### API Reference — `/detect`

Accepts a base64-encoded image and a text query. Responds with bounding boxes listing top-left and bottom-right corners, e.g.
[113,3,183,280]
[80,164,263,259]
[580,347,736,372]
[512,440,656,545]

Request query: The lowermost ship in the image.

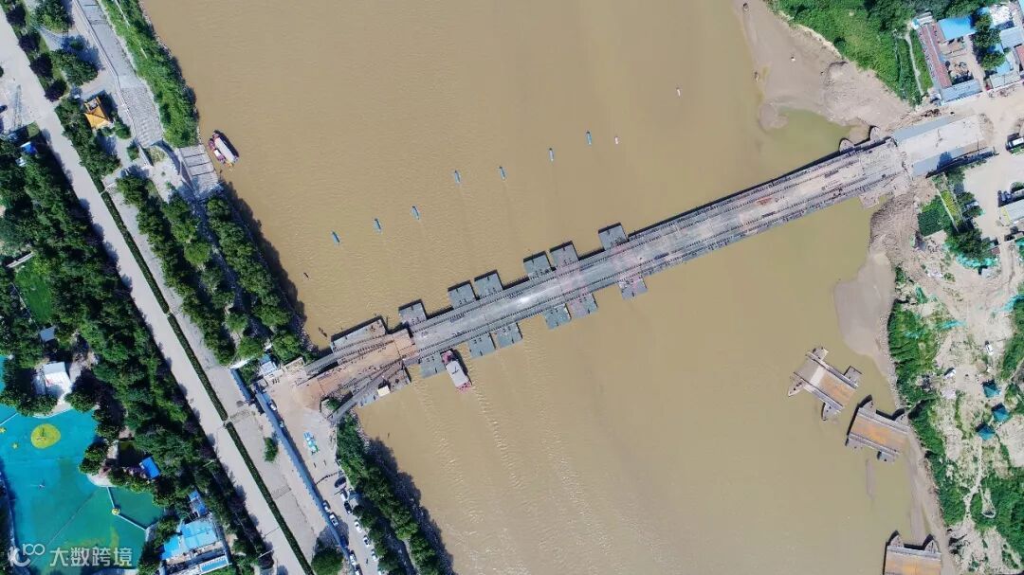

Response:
[883,532,941,575]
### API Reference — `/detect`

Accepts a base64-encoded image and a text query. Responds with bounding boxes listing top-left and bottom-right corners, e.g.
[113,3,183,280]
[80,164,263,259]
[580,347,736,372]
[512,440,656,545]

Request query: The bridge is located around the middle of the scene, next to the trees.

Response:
[300,133,900,420]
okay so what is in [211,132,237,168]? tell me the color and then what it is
white boat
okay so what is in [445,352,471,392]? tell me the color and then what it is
white boat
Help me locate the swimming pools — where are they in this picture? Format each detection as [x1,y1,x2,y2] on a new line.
[0,359,163,575]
